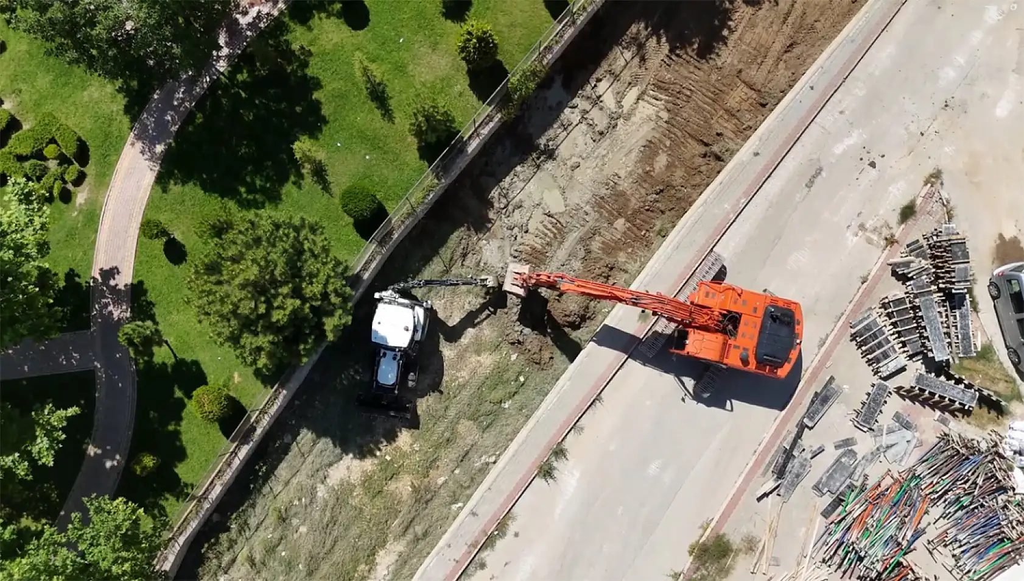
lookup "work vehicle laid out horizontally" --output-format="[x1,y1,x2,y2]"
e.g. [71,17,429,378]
[507,253,802,399]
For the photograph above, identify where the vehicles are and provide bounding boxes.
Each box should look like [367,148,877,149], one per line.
[360,275,499,412]
[507,253,802,399]
[985,259,1024,370]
